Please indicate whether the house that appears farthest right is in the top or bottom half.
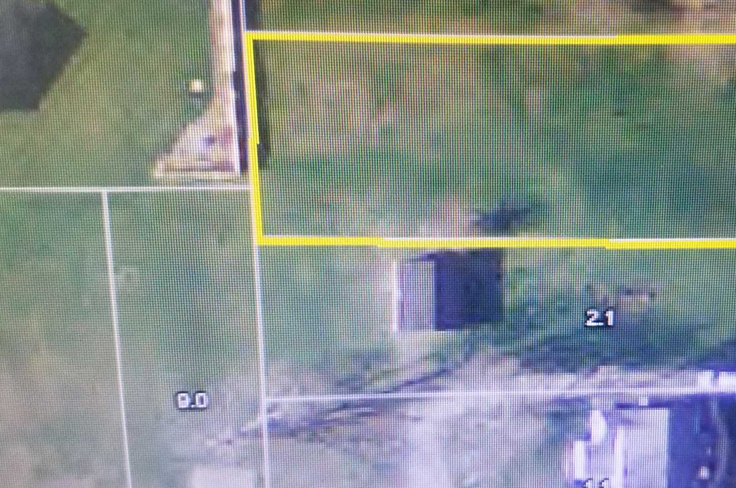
bottom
